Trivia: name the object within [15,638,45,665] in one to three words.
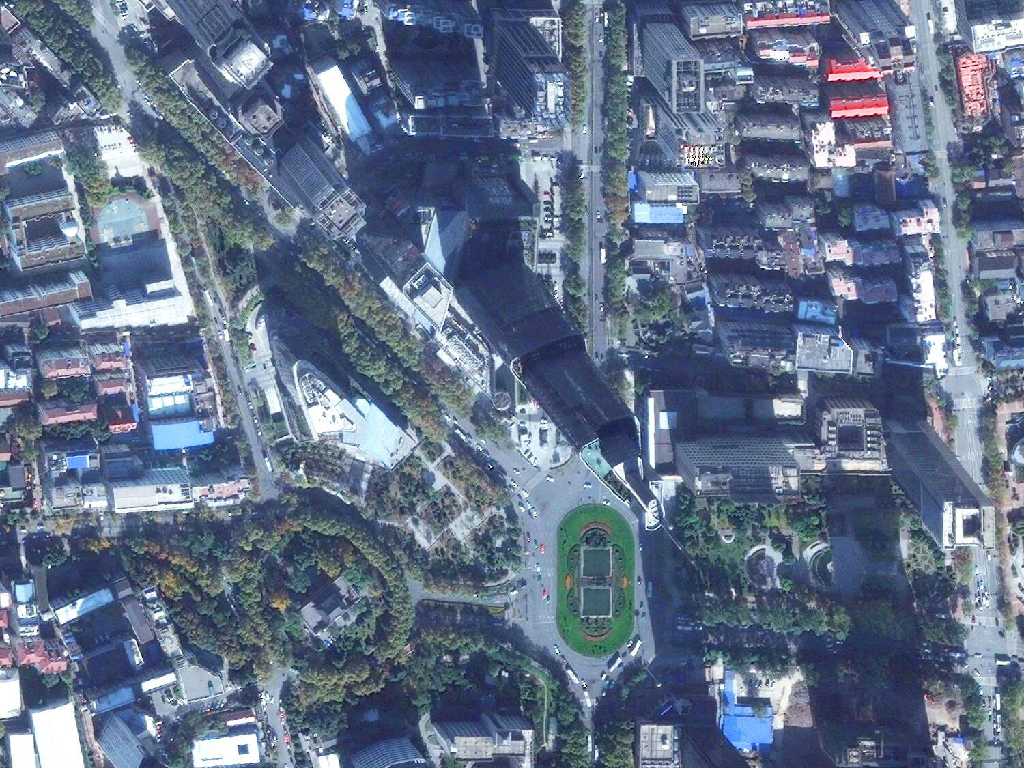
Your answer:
house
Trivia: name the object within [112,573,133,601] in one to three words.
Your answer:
shed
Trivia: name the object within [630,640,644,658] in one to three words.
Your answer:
vehicle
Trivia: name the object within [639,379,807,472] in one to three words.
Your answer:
building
